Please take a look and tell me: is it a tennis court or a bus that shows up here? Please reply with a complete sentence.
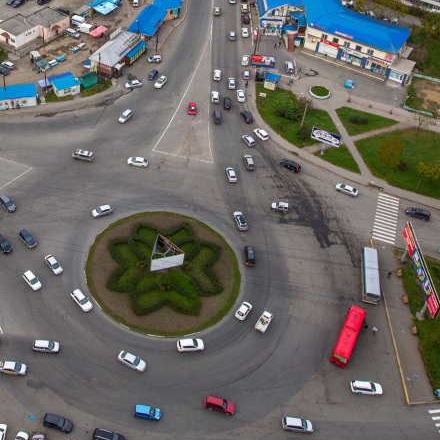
Of the two, only a bus appears.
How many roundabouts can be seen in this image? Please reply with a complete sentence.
The picture shows just 1 roundabout.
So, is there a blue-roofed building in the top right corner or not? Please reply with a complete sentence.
Yes, I can see a blue-roofed building in the top right corner.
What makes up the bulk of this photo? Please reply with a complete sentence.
For the most part, this view shows paved ground.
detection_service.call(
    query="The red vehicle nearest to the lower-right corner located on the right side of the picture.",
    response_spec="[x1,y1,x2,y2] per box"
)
[329,303,366,373]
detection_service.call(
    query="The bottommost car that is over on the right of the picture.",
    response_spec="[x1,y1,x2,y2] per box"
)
[282,415,313,435]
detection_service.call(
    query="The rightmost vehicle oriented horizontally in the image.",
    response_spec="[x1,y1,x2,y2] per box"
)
[405,207,431,222]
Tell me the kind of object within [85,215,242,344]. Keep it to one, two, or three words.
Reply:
roundabout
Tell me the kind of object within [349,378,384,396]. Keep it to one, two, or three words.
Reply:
car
